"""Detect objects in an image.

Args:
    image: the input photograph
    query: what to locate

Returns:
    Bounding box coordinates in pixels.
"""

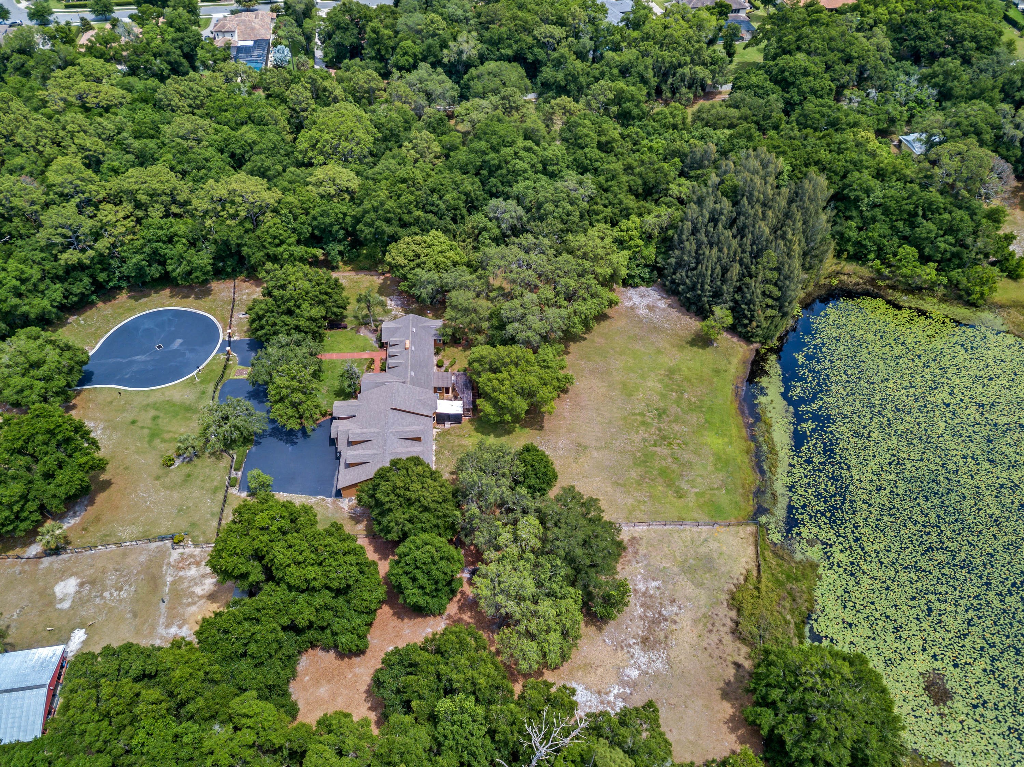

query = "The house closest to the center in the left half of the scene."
[331,314,473,497]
